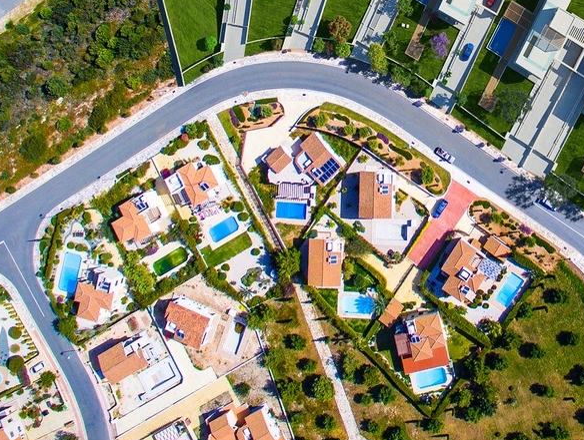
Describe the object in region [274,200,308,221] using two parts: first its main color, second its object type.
blue swimming pool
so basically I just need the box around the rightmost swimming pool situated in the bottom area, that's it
[492,270,527,311]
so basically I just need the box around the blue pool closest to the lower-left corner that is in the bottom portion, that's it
[56,250,83,295]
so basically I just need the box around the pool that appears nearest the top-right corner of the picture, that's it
[485,16,519,56]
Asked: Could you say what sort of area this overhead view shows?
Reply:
residential area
